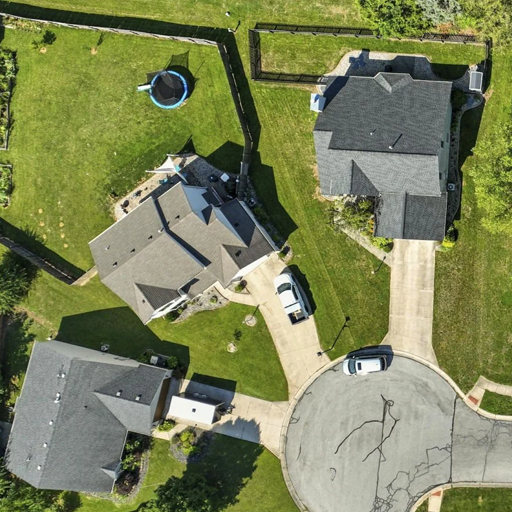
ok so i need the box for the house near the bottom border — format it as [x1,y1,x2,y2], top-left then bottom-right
[1,339,177,493]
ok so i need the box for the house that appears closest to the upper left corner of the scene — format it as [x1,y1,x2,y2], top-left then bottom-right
[88,180,281,326]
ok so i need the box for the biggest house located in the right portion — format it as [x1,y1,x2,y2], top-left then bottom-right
[308,72,454,241]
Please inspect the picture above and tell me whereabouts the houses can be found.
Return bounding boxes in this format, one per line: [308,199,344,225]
[308,72,454,241]
[88,180,281,326]
[1,339,177,493]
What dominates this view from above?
grass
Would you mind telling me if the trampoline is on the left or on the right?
left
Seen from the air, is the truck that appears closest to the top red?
No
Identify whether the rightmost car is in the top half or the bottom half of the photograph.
bottom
